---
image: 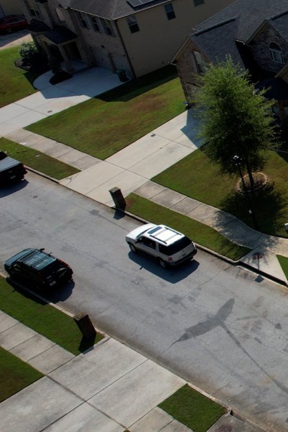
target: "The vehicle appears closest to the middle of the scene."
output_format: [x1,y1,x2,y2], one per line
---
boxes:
[124,220,200,269]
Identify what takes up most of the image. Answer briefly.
paved ground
